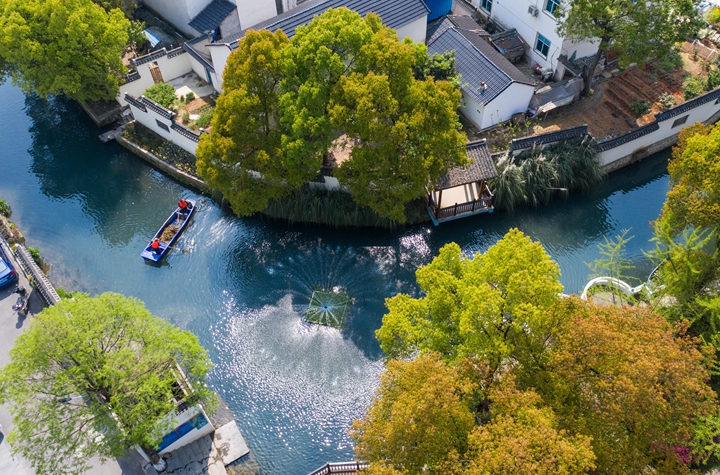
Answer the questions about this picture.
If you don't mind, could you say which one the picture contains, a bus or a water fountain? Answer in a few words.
water fountain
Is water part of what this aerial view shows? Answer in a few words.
Yes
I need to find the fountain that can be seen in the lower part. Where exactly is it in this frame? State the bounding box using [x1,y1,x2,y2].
[235,239,396,391]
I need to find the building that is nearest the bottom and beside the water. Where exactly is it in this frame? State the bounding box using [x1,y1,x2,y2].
[418,141,501,225]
